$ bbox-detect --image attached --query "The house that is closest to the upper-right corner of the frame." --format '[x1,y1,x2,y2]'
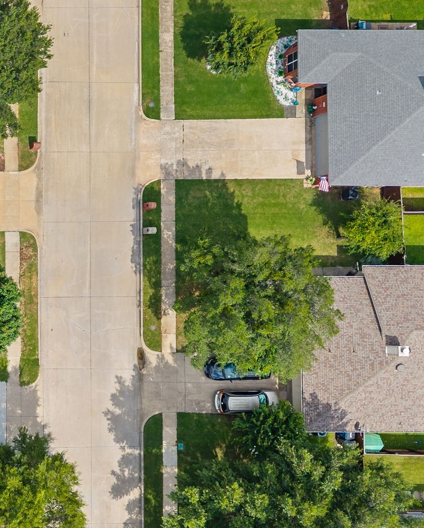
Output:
[283,28,424,188]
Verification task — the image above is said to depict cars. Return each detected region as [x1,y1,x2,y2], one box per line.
[202,358,270,385]
[213,388,277,417]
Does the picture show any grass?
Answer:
Yes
